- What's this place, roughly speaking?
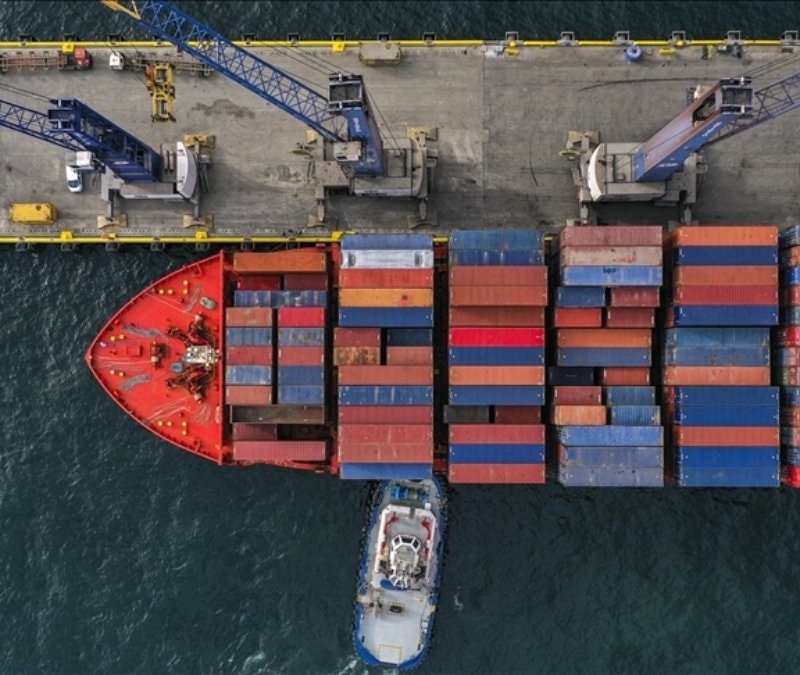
port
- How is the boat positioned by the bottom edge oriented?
up and down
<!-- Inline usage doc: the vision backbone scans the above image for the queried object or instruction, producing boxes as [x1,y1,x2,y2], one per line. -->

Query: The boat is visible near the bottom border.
[353,473,447,670]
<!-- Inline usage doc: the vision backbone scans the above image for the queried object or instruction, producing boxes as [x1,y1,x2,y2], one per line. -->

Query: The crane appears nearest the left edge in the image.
[0,80,218,233]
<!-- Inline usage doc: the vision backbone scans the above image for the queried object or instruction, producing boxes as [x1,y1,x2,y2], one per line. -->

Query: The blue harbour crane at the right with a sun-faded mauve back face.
[562,59,800,228]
